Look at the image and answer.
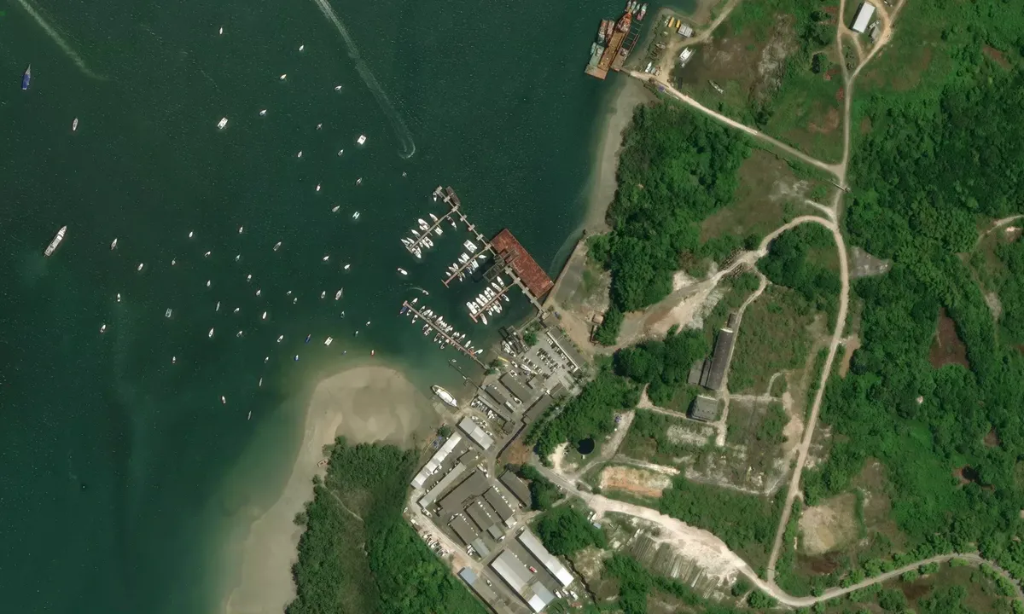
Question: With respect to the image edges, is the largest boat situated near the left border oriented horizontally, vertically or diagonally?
diagonally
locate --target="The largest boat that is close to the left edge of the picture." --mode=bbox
[43,227,66,255]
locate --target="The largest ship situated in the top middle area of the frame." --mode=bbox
[598,12,631,72]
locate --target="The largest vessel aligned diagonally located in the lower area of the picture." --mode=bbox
[431,386,458,408]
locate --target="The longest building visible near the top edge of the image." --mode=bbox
[853,1,875,32]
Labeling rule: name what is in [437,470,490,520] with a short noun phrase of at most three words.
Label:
building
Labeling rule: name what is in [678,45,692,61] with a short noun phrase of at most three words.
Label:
boat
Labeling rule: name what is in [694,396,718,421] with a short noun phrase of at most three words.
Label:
building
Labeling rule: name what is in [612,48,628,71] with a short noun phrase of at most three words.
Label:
ship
